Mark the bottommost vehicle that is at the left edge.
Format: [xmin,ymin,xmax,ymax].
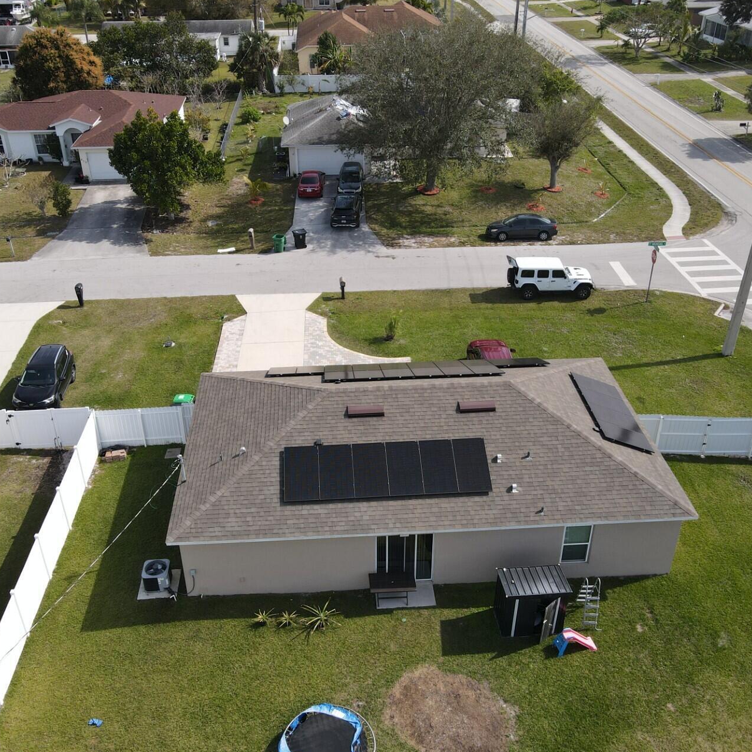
[19,336,83,411]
